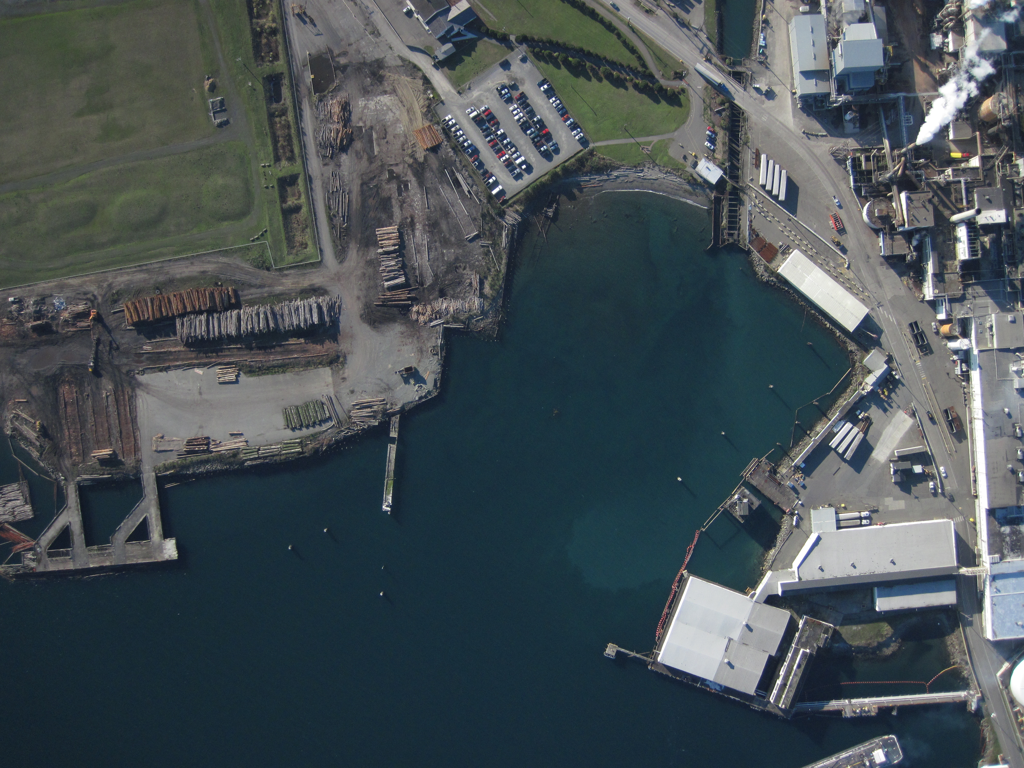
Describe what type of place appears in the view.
port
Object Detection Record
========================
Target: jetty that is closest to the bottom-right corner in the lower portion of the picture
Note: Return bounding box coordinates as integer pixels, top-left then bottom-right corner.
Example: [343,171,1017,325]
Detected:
[794,690,981,717]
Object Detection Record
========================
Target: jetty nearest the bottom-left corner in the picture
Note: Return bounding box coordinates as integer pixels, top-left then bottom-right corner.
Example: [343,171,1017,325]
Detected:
[34,472,178,573]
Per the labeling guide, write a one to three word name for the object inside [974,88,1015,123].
storage tank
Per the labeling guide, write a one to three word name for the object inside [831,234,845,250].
work vehicle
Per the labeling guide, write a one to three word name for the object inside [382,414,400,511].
pier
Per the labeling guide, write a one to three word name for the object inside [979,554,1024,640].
building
